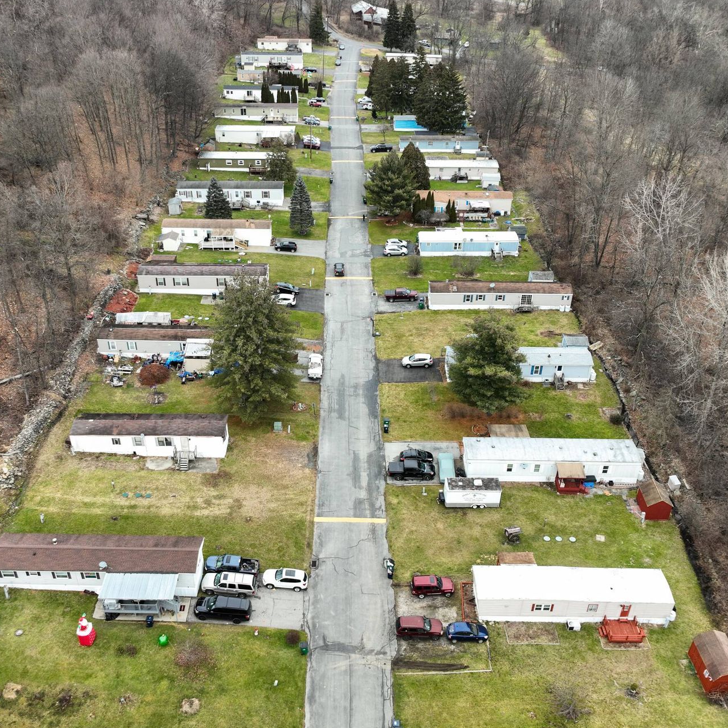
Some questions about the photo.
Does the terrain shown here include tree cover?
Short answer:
Yes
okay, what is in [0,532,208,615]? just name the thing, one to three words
house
